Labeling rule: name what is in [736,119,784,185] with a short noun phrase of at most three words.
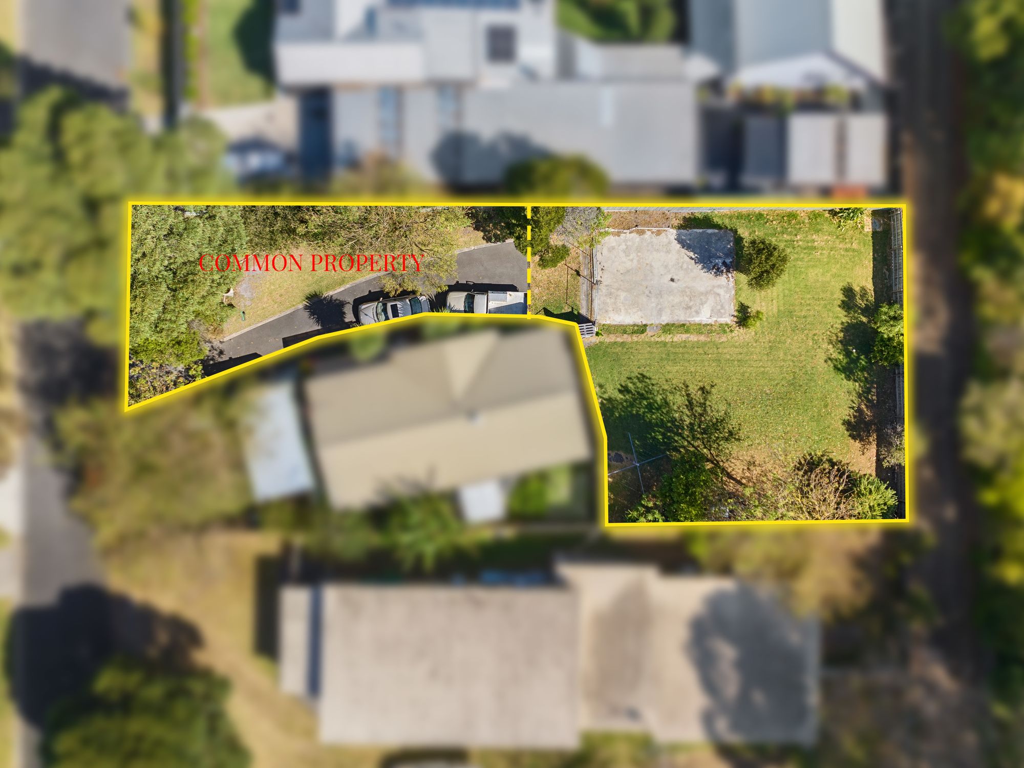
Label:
shed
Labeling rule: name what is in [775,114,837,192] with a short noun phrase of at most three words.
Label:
shed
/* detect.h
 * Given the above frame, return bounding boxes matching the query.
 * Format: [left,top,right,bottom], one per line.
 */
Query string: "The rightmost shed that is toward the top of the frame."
[830,114,889,192]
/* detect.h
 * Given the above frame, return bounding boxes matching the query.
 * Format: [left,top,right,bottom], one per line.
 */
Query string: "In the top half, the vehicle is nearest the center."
[447,287,527,322]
